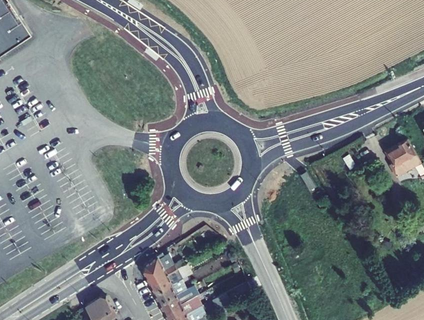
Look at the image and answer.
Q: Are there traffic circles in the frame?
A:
Yes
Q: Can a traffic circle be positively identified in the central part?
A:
Yes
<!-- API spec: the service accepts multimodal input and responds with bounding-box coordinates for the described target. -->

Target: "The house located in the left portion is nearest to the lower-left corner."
[83,298,112,320]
